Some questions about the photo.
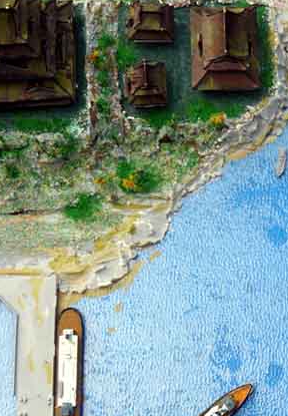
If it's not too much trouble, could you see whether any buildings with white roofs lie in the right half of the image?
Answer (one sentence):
No, no building with a white roof is visible in the right half of the image.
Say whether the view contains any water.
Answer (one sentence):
Yes, some water is visible.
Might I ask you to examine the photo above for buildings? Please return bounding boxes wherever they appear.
[0,0,74,107]
[127,0,176,46]
[190,0,263,96]
[121,54,169,110]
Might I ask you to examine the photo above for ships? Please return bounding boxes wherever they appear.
[55,308,86,416]
[199,385,252,416]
